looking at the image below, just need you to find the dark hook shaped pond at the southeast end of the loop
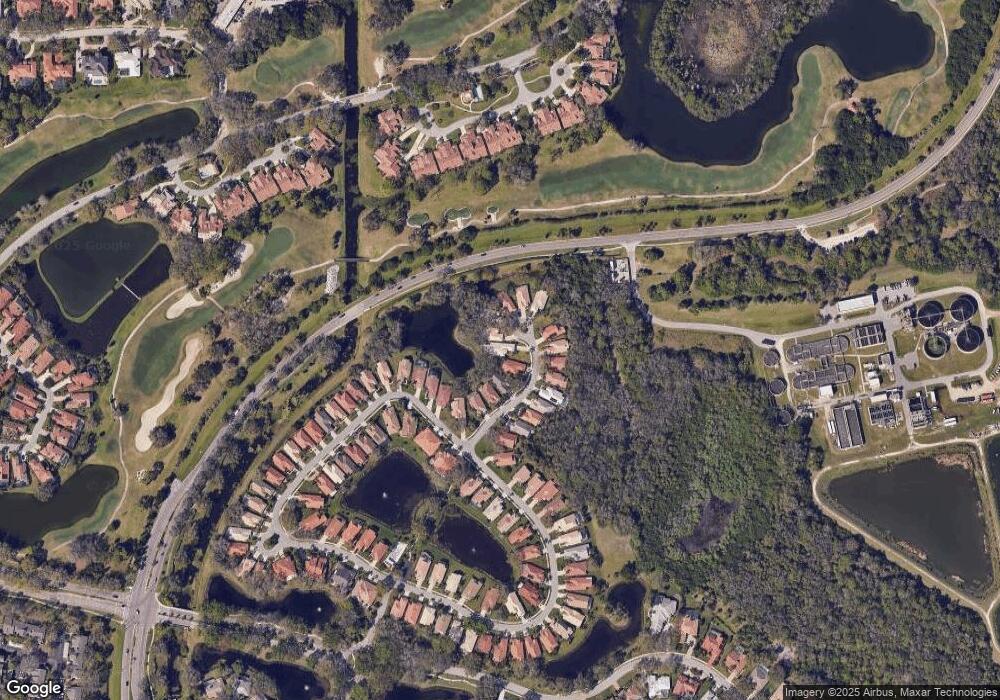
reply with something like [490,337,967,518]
[546,580,645,680]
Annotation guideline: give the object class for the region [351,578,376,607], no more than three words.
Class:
house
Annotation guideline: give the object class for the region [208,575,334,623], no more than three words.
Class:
pond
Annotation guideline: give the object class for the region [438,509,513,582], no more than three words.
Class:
pond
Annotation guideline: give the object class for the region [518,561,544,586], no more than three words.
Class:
house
